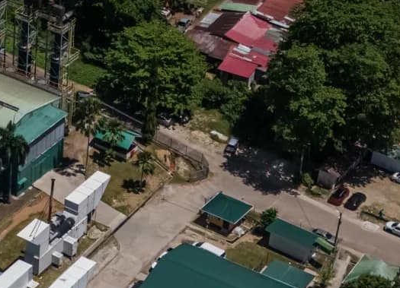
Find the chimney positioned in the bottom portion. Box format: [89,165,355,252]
[40,177,60,224]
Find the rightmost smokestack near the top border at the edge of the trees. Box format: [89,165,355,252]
[49,6,87,90]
